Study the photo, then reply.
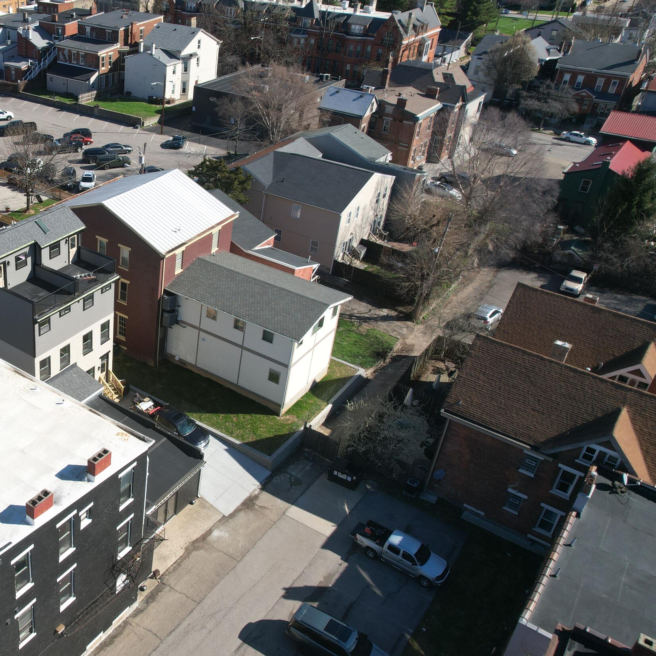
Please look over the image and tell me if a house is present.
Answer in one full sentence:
Yes, the frame does contain a house.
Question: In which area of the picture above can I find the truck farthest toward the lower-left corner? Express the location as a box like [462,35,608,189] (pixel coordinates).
[134,391,208,441]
